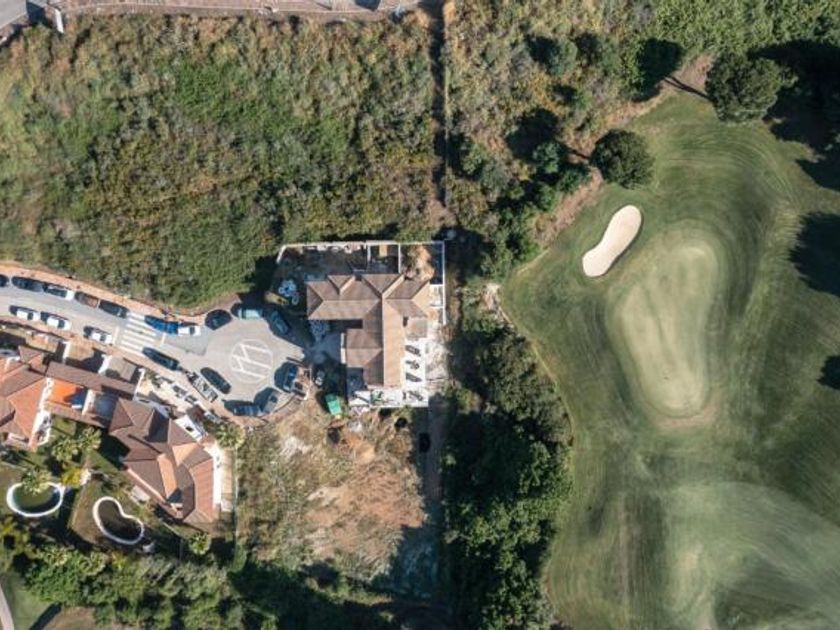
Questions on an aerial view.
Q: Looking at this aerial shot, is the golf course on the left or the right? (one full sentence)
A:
The golf course appears in the right half of the scene.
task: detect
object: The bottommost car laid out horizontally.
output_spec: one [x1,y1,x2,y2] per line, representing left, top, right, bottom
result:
[232,402,260,416]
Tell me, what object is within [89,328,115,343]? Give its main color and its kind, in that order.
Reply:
white car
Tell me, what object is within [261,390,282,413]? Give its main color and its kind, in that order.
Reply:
gray car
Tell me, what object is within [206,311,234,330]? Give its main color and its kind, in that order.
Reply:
black car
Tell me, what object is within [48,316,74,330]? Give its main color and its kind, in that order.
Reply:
white vehicle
